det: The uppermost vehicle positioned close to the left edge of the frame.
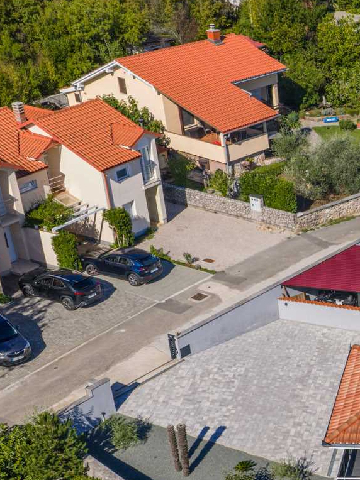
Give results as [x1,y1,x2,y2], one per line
[18,258,104,305]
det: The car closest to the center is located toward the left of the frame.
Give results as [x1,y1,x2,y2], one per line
[84,239,168,283]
